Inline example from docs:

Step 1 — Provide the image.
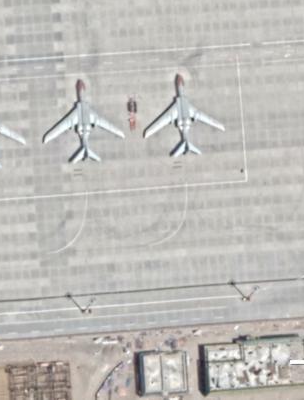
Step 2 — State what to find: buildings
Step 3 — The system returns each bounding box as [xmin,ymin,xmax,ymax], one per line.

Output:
[201,338,304,396]
[139,351,189,400]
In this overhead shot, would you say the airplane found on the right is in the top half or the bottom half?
top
